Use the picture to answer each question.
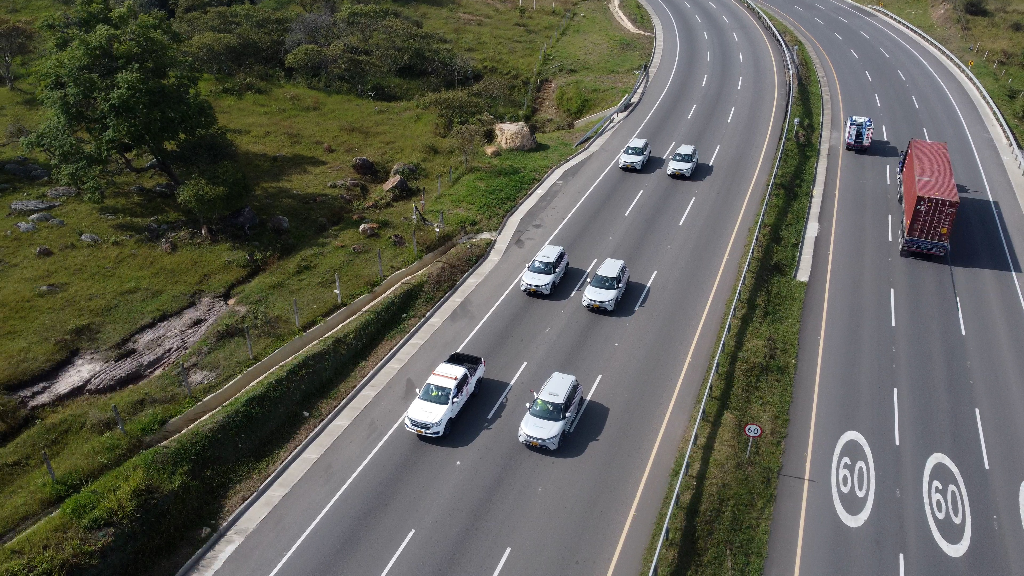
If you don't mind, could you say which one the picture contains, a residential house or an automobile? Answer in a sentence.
Of the two, only an automobile appears.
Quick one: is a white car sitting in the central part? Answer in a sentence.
Yes, you'll find a white car in the central part.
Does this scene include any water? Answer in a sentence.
No, water can't be seen anywhere here.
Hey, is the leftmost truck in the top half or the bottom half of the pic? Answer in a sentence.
The leftmost truck is in the bottom half of the image.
